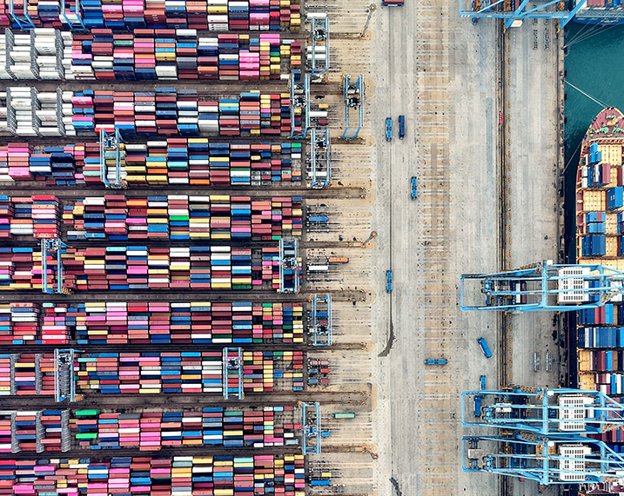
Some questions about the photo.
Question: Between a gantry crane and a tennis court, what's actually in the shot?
gantry crane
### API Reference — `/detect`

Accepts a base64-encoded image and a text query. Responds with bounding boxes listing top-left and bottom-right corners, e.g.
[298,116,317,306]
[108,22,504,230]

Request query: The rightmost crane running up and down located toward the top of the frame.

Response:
[336,71,367,137]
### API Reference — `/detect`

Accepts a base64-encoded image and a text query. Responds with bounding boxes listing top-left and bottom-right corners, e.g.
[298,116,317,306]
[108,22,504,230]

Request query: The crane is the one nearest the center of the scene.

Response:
[275,236,303,293]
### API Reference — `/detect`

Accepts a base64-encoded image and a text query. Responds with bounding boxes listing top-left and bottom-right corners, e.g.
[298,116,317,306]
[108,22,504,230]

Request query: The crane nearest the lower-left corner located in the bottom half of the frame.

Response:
[55,348,88,403]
